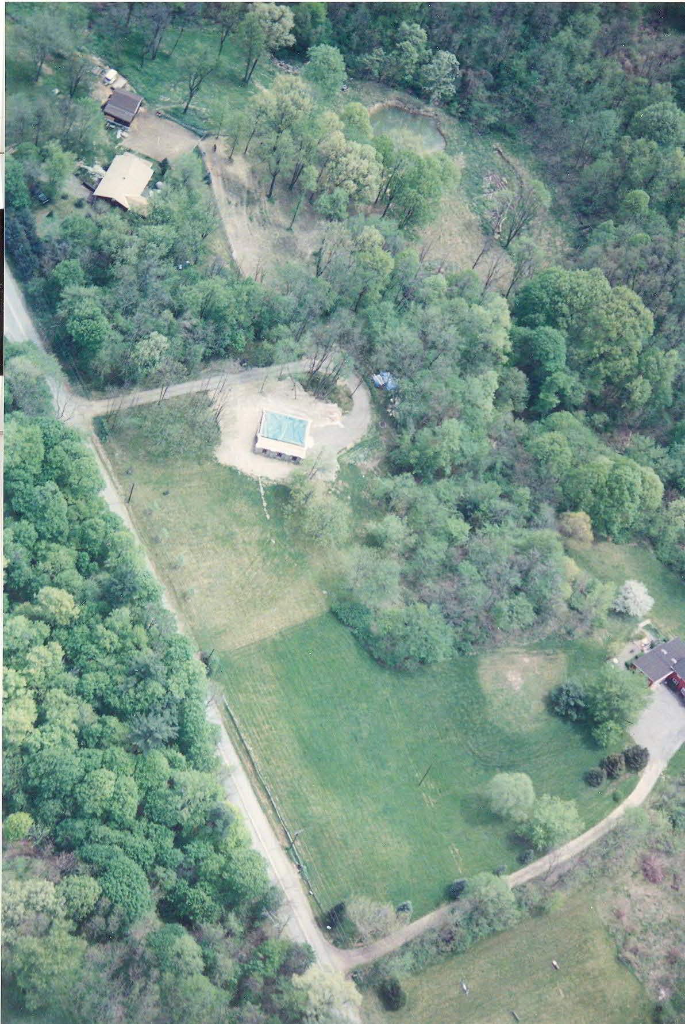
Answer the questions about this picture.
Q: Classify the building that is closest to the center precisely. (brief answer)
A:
home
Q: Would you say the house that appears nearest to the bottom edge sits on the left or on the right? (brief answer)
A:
right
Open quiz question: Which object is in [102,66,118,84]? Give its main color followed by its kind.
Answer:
white vehicle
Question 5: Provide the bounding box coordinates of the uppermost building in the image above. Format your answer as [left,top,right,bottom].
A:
[100,87,144,134]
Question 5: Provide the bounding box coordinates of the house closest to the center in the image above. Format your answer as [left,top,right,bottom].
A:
[254,409,313,464]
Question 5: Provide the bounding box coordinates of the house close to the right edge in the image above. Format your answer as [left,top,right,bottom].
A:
[635,633,685,692]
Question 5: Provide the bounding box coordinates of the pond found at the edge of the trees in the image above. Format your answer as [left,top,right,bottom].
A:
[371,109,444,155]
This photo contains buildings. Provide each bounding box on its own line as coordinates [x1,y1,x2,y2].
[254,409,313,464]
[100,87,144,134]
[94,152,151,214]
[635,633,685,692]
